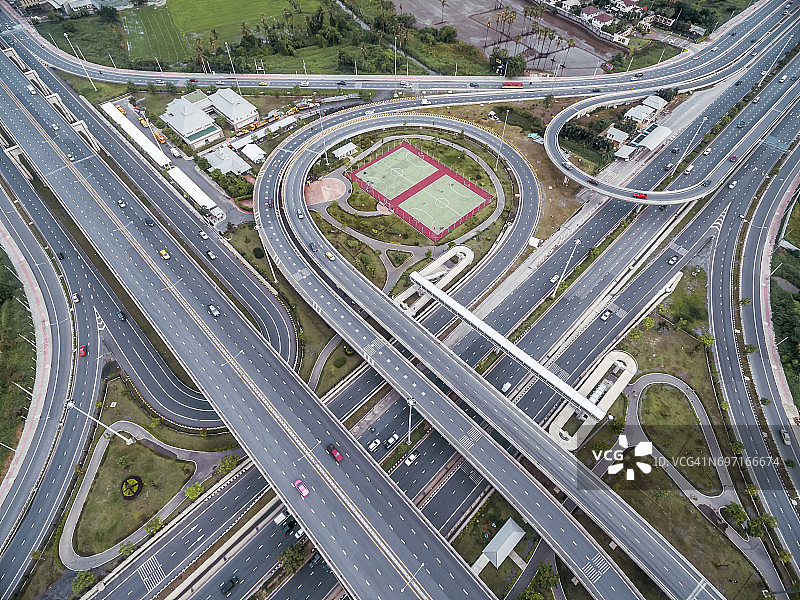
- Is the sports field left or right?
left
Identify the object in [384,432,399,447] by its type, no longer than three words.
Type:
vehicle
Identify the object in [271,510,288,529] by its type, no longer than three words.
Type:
vehicle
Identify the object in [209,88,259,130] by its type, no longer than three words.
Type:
building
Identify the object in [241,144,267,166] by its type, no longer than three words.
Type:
house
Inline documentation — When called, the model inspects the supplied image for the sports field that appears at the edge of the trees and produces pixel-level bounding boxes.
[123,9,192,61]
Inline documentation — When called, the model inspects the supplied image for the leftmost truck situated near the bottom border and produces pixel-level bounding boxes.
[219,574,240,597]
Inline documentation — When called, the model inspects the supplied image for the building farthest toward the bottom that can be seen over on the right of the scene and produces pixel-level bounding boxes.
[482,516,525,568]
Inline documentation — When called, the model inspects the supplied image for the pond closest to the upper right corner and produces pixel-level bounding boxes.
[488,34,618,73]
